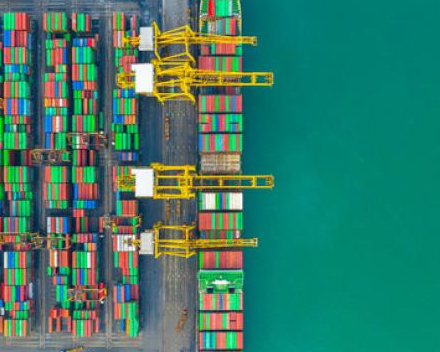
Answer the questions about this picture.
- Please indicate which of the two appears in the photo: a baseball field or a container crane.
container crane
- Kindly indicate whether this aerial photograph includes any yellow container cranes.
Yes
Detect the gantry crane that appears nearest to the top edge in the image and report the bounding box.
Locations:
[123,24,257,68]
